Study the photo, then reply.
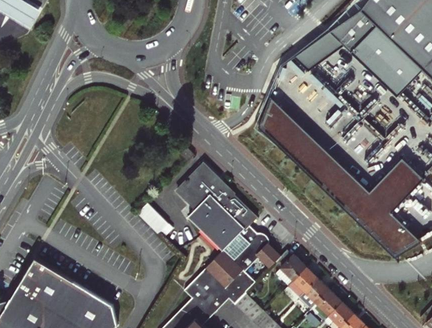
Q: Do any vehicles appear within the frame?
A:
Yes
